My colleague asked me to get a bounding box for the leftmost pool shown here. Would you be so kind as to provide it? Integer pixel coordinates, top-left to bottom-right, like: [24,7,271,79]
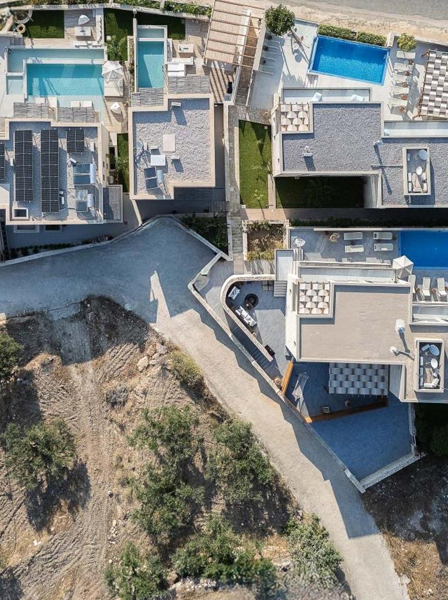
[6,76,25,95]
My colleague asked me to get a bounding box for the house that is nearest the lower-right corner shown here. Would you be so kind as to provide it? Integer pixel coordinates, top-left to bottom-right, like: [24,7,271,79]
[239,249,448,402]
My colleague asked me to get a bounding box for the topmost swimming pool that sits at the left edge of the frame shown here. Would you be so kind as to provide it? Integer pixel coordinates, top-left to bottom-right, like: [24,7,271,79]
[6,48,106,75]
